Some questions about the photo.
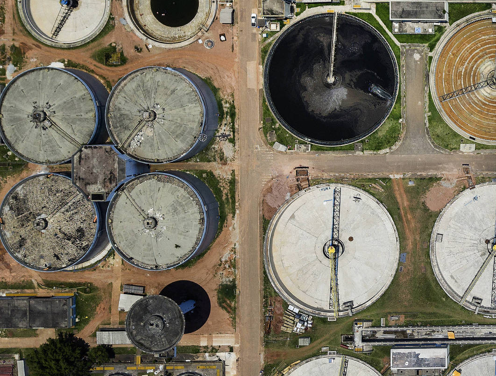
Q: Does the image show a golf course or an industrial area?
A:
industrial area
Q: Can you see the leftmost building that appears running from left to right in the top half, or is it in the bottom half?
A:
bottom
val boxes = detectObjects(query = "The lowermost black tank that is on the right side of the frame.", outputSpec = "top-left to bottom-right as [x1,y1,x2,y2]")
[265,10,400,147]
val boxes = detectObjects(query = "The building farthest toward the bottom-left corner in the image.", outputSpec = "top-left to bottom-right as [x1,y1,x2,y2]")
[0,297,77,328]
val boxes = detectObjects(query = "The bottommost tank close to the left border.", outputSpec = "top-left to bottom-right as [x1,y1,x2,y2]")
[0,169,111,273]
